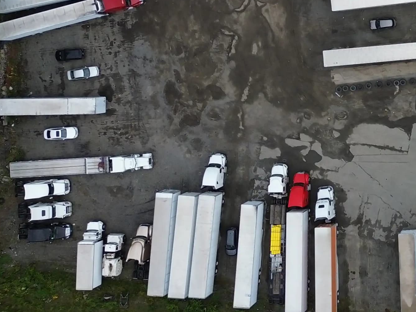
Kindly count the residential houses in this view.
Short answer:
zero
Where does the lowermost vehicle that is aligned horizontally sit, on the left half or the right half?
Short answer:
left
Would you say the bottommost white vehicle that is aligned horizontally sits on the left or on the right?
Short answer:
left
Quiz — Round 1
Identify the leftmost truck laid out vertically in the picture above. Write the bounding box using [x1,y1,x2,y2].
[77,220,106,290]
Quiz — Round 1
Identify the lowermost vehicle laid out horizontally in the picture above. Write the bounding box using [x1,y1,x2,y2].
[15,224,74,243]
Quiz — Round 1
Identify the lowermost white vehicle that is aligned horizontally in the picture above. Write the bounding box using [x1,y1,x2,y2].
[17,200,74,221]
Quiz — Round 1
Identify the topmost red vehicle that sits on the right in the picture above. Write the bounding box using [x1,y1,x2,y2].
[289,171,313,219]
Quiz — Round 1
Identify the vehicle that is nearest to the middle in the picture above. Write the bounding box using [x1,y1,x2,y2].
[205,153,230,200]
